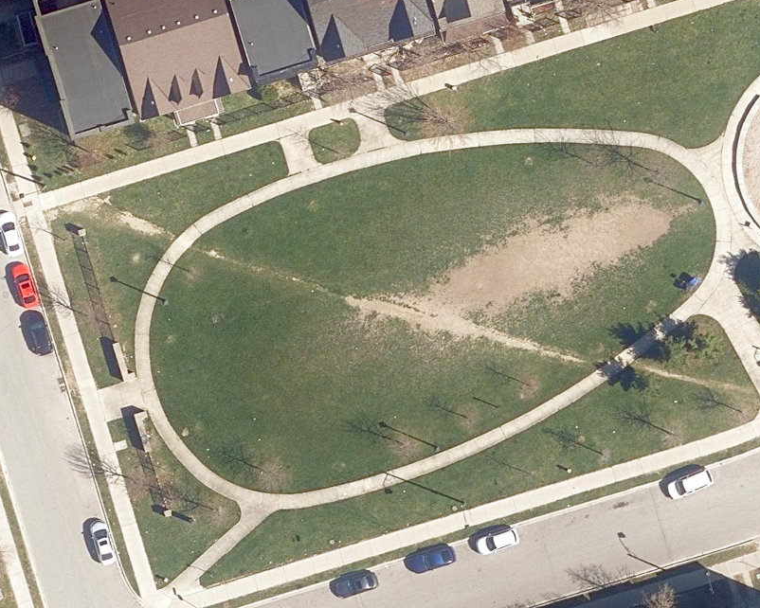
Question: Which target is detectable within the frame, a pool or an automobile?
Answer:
automobile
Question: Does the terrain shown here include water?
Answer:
No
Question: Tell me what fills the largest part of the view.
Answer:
grass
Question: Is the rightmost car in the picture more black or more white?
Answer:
white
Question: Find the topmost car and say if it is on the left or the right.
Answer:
left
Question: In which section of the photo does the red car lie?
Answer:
left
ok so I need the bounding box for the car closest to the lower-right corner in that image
[666,469,716,499]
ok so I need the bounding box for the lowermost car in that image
[334,572,381,599]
